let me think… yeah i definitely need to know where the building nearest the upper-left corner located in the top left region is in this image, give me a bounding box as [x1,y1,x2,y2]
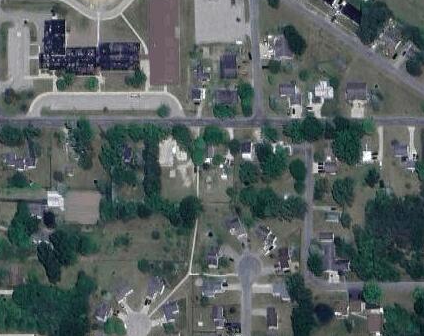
[39,20,142,76]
